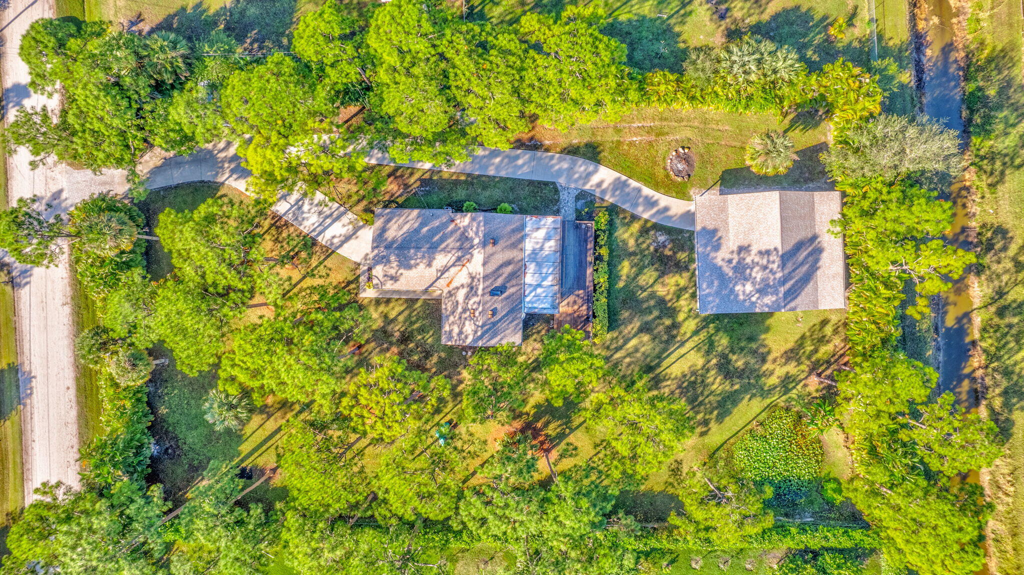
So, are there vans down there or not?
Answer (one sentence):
No, there appears to be no van in this shot.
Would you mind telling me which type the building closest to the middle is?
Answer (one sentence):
From above, the building closest to the middle can be identified as a residential house.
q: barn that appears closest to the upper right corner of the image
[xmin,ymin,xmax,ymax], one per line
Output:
[691,190,847,314]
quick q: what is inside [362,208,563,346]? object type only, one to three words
house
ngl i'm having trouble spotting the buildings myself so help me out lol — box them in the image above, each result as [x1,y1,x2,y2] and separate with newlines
[362,208,563,346]
[691,190,847,314]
